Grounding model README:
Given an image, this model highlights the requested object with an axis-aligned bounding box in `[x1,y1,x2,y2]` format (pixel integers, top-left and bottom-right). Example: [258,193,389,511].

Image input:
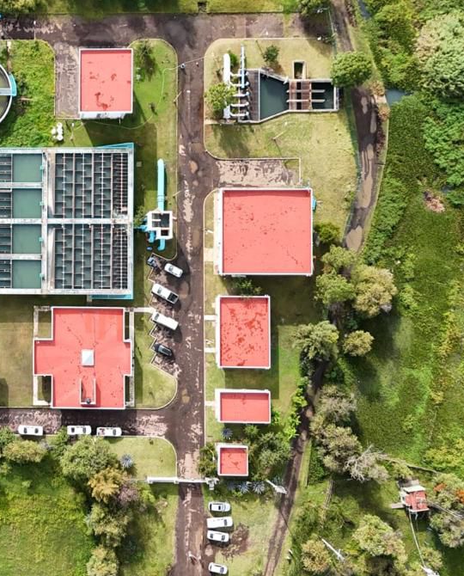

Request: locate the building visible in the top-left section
[77,48,133,119]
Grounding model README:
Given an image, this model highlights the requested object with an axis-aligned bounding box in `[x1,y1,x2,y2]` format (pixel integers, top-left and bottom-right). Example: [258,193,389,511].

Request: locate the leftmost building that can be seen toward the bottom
[34,306,131,408]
